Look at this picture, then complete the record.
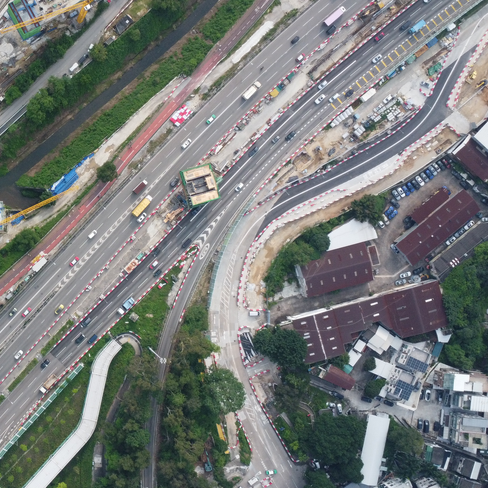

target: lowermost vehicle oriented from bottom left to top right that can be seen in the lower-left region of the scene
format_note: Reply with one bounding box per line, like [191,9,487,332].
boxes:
[39,374,58,393]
